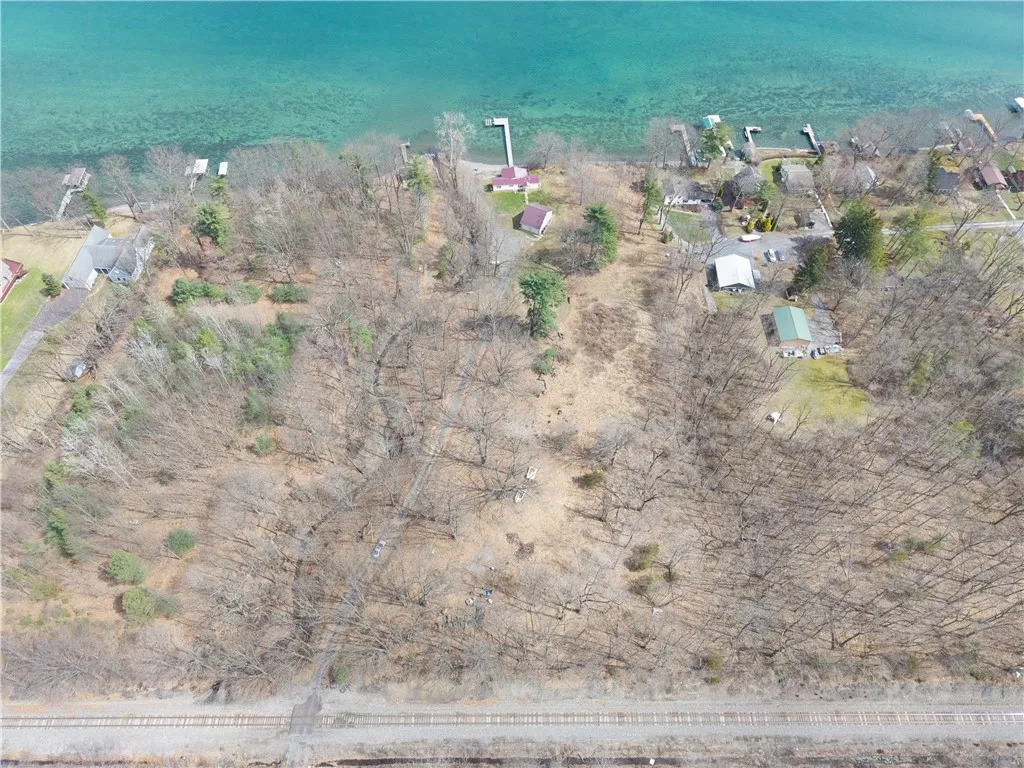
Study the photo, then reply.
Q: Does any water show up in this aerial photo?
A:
Yes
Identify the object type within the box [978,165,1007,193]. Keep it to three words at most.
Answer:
house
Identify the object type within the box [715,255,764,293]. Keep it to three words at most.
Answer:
building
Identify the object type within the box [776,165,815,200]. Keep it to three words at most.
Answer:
house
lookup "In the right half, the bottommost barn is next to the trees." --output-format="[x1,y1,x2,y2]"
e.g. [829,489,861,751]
[769,304,811,348]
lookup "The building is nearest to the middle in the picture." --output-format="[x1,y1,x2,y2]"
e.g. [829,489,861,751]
[520,203,551,234]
